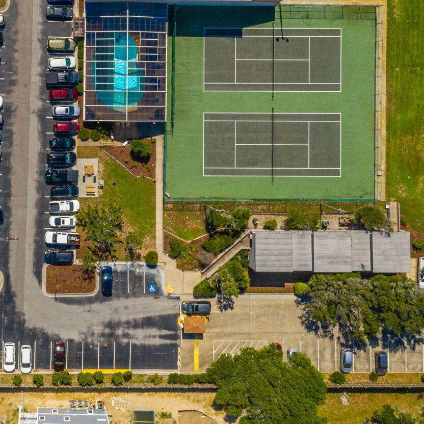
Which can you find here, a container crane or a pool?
pool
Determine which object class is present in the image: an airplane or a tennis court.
tennis court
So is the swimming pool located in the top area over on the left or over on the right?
left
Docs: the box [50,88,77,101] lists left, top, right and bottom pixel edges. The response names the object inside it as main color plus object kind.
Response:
red vehicle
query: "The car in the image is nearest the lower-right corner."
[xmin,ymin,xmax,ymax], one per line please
[374,350,388,374]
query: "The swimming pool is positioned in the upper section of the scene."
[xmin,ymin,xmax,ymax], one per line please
[94,29,146,110]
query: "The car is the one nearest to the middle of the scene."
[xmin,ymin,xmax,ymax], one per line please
[180,301,212,316]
